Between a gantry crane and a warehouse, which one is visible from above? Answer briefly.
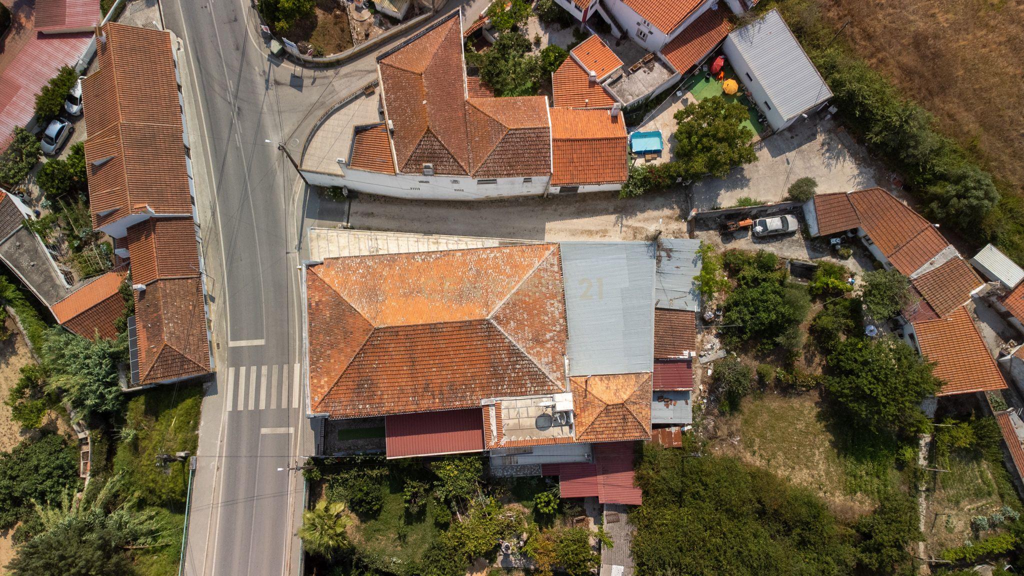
warehouse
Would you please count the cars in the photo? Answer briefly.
3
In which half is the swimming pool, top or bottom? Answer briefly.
top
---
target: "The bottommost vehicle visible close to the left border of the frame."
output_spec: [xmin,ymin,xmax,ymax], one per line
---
[39,117,78,157]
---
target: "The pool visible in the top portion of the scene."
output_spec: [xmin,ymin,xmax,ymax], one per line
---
[629,130,664,157]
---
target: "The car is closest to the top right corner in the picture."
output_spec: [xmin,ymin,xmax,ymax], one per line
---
[750,213,799,239]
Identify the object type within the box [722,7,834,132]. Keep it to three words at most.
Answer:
warehouse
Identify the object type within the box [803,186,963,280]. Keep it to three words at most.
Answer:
house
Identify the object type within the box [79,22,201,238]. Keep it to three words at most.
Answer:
house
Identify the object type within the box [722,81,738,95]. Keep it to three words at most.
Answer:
umbrella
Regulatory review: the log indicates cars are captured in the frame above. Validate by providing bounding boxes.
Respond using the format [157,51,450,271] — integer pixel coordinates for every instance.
[750,213,799,239]
[64,76,84,118]
[39,117,78,157]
